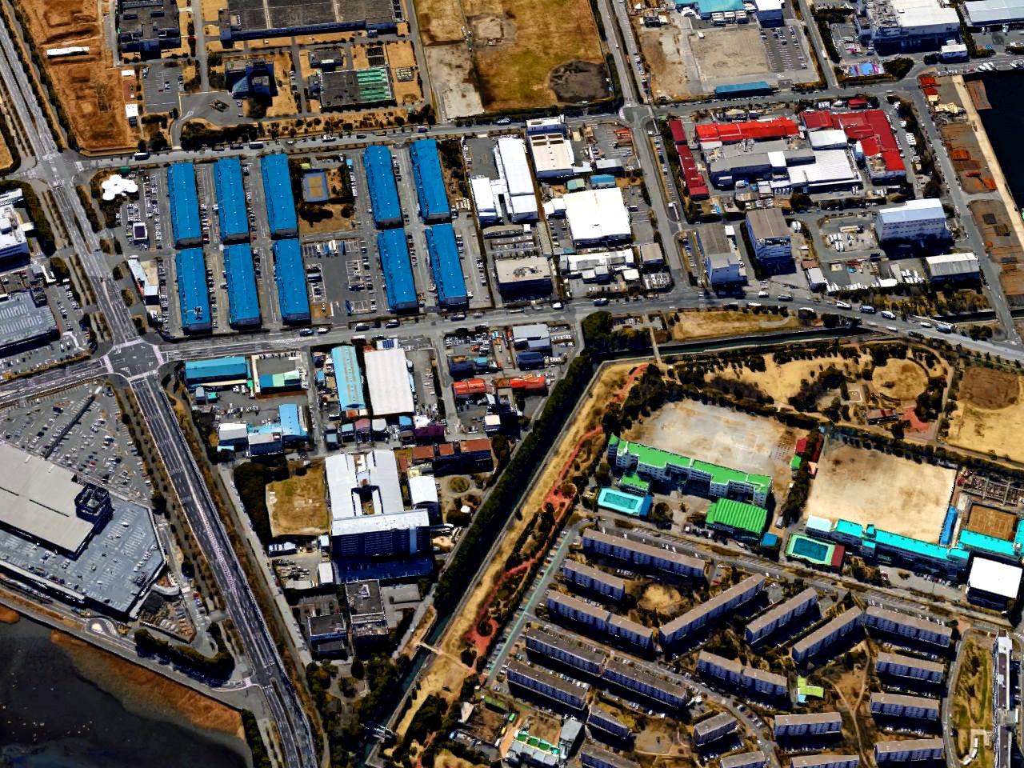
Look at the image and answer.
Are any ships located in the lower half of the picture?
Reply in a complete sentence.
No, there's no ship to be seen in the lower half of the picture.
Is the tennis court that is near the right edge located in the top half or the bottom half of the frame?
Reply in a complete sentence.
The tennis court that is near the right edge is in the bottom half of the image.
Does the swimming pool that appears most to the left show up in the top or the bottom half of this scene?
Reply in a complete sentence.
It is in the bottom half that the swimming pool that appears most to the left appears.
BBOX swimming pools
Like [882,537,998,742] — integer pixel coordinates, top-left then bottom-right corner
[786,535,845,568]
[598,489,653,517]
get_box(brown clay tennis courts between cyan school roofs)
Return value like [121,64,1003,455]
[968,505,1018,540]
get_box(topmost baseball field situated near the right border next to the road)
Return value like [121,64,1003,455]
[947,361,1024,459]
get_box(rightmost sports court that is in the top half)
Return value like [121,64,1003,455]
[302,170,329,201]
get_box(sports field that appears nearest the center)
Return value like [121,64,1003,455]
[621,399,803,479]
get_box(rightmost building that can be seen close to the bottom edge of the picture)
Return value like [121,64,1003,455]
[991,628,1019,768]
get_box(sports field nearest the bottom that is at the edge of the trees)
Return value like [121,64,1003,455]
[804,444,956,545]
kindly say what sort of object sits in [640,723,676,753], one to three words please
playground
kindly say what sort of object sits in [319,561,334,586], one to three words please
shed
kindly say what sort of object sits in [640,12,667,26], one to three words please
house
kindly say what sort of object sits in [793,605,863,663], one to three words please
building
